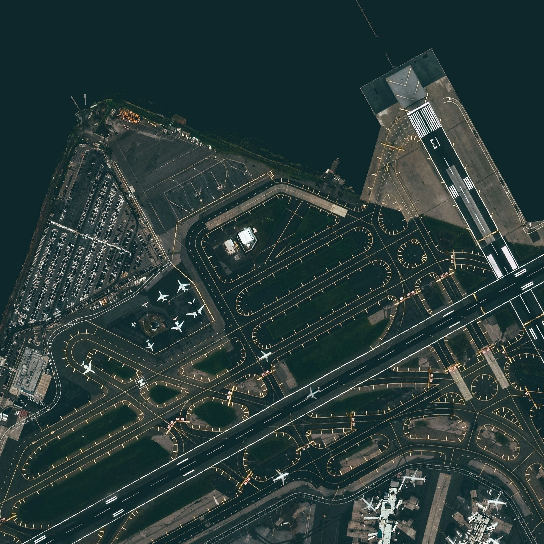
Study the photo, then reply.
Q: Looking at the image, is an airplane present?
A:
Yes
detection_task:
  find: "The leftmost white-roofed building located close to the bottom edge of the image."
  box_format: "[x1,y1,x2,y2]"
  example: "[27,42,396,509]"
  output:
[364,477,405,544]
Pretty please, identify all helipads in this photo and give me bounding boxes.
[135,376,147,389]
